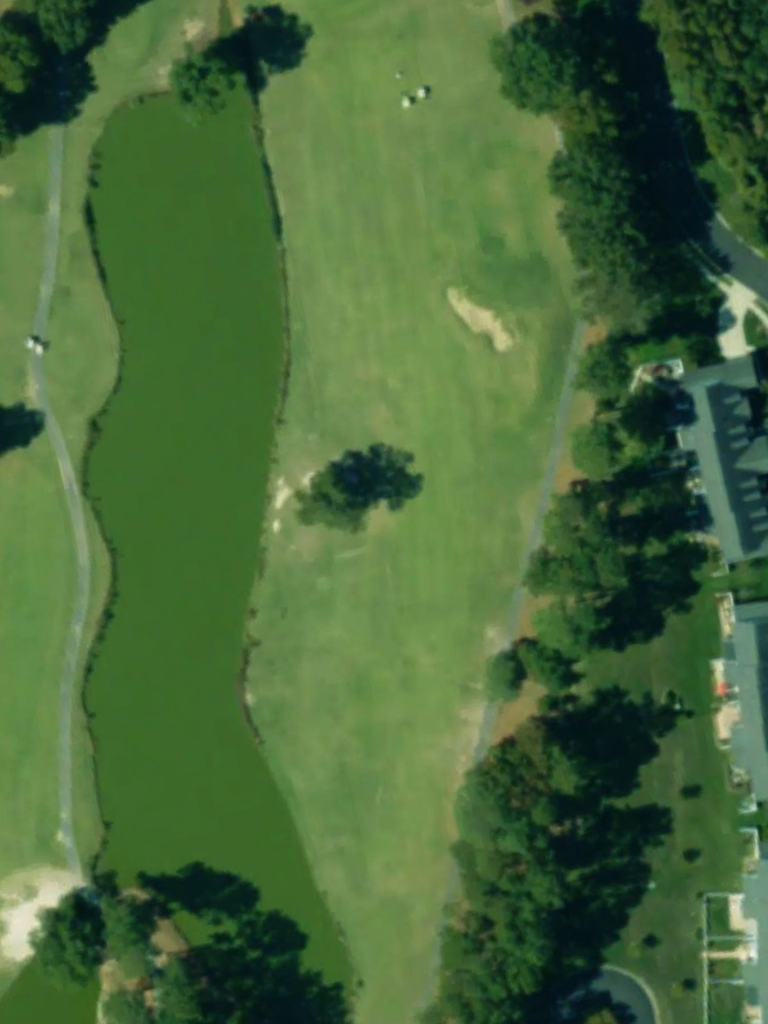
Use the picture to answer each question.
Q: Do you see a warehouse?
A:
No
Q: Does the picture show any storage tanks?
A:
No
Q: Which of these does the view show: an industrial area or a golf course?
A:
golf course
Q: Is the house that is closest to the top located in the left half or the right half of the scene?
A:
right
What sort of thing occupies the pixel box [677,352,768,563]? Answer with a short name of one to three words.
house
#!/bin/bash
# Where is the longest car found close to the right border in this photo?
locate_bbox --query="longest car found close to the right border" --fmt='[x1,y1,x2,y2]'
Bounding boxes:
[719,306,731,330]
